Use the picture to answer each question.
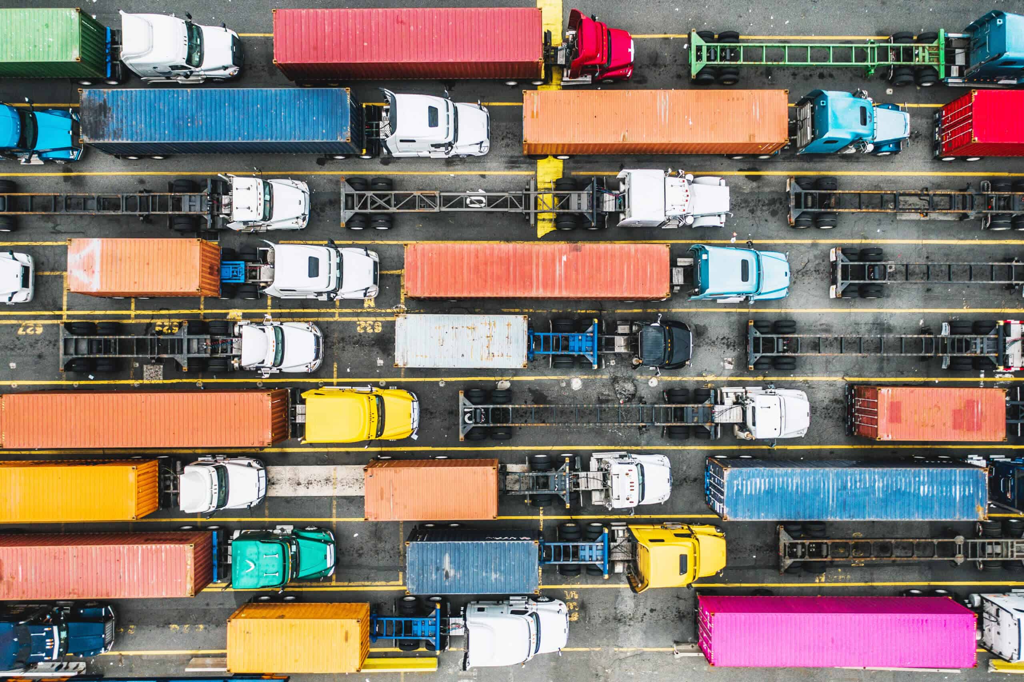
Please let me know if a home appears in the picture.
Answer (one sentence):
No, there isn't any home down there.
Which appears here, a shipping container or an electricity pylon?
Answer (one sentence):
Of the two, only a shipping container appears.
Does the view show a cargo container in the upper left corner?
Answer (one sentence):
Yes, I can see a cargo container in the upper left corner.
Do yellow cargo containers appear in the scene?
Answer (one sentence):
Yes, the image includes a yellow cargo container.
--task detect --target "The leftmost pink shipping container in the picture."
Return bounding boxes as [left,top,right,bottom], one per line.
[0,532,213,598]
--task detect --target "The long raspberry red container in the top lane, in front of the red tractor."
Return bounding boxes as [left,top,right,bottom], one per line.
[273,8,542,80]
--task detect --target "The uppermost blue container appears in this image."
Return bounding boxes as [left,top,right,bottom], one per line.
[78,88,361,155]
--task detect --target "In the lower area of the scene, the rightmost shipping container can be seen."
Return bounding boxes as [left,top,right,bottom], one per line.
[856,385,1006,441]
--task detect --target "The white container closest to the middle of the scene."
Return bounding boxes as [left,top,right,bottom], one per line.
[394,314,527,368]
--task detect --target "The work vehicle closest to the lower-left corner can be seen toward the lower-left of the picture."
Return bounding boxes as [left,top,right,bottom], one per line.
[0,598,118,670]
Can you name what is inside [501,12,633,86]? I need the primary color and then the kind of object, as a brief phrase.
red work vehicle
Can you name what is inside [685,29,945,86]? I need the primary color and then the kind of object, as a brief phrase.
green trailer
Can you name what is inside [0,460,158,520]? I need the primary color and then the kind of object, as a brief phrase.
yellow shipping container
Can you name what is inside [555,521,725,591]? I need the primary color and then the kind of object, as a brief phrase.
yellow work vehicle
